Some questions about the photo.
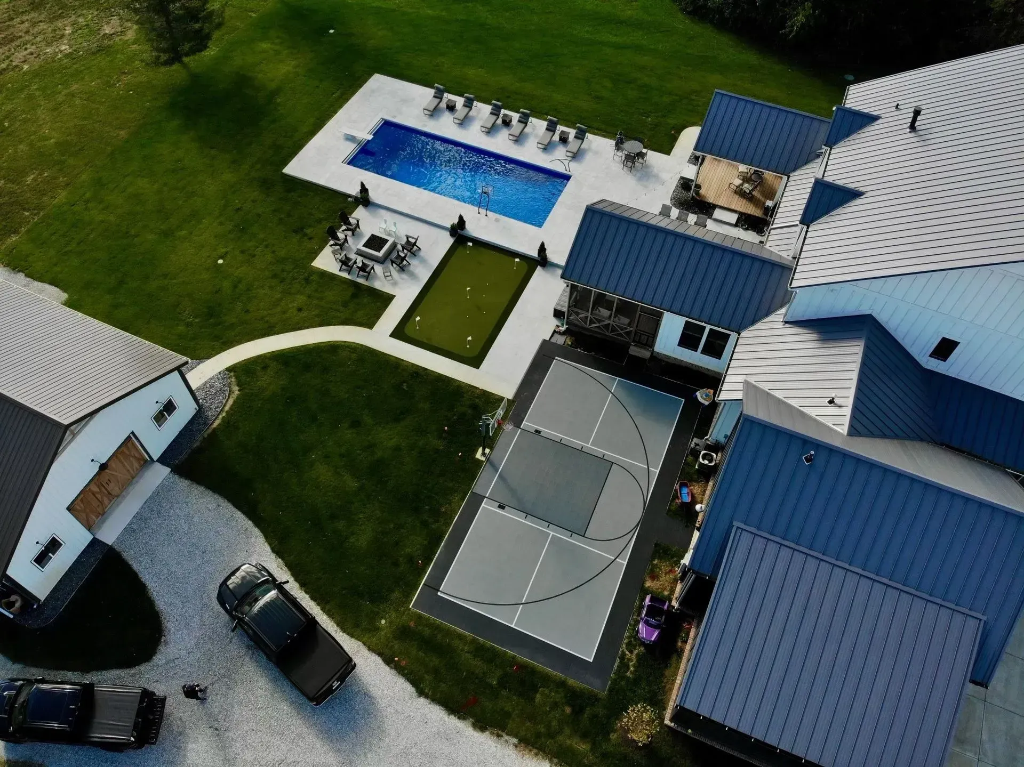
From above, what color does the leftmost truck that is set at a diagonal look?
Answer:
black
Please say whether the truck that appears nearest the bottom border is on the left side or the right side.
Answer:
left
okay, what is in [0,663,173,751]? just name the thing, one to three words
truck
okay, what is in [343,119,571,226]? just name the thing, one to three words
swimming pool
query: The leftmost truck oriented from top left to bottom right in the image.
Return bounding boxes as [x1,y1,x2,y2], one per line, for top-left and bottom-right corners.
[217,559,362,713]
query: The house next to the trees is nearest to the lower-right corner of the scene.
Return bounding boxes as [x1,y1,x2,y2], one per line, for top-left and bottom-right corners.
[555,40,1024,767]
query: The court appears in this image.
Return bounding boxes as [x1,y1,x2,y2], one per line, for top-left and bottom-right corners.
[406,340,699,693]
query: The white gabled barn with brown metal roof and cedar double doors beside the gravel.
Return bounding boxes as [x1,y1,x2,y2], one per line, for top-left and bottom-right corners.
[0,282,200,621]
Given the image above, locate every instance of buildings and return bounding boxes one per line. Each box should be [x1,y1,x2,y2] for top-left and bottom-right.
[555,40,1024,767]
[0,282,200,621]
